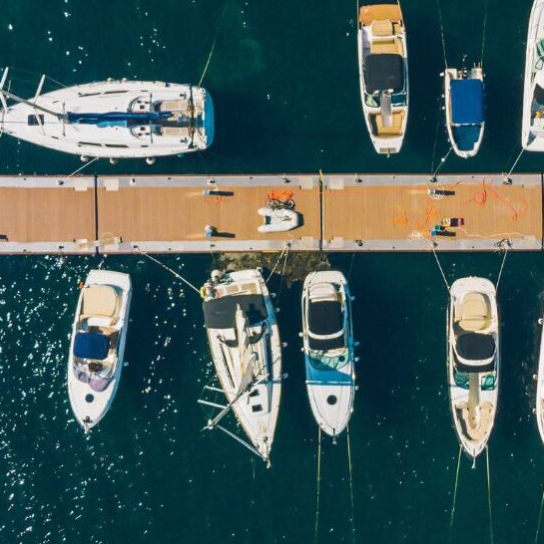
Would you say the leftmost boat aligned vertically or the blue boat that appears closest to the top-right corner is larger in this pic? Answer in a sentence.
The leftmost boat aligned vertically takes up more space than the blue boat that appears closest to the top-right corner.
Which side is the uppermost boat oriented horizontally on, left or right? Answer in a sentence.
It is on the left.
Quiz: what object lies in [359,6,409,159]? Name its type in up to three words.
boat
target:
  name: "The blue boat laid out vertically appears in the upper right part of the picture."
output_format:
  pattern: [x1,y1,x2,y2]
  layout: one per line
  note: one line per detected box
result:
[445,57,484,160]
